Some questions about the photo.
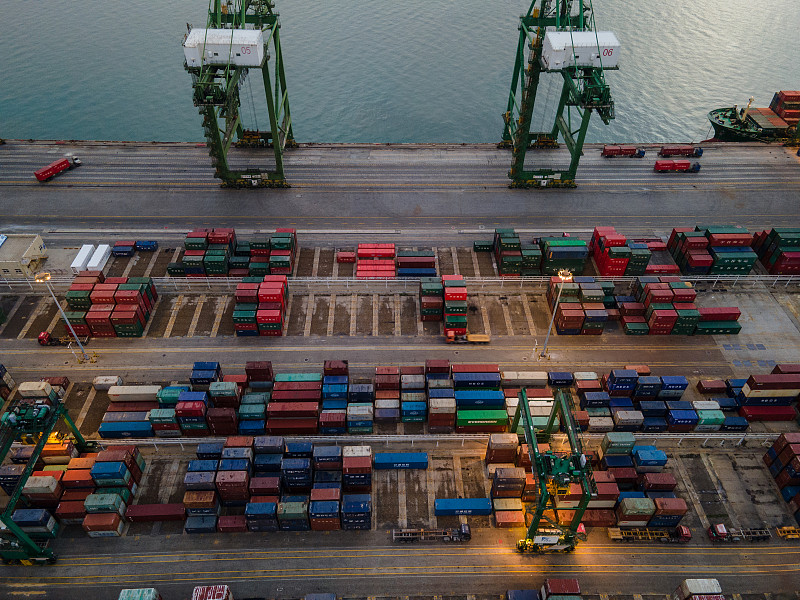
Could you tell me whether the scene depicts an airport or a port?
port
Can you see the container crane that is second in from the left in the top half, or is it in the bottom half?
top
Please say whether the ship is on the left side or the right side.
right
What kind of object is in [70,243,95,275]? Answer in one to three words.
shipping container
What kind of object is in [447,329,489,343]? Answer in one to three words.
vehicle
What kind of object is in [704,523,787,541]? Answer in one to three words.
vehicle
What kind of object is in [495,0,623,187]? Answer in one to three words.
container crane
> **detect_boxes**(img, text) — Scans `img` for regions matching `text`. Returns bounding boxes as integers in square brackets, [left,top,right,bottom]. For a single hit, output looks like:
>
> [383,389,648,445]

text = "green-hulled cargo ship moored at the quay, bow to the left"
[701,88,800,144]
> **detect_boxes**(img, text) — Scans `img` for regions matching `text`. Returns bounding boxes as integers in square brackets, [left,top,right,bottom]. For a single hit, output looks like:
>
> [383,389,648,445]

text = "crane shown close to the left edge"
[0,391,109,559]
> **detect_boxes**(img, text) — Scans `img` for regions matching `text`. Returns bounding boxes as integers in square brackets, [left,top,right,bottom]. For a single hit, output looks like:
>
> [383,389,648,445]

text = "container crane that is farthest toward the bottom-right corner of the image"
[495,388,597,550]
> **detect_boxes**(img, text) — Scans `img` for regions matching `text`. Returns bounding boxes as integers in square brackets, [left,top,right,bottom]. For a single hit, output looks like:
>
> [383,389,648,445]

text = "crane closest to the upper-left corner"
[181,0,299,186]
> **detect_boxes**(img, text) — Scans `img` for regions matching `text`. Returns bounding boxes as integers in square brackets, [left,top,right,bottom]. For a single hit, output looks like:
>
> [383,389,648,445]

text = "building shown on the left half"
[0,234,52,278]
